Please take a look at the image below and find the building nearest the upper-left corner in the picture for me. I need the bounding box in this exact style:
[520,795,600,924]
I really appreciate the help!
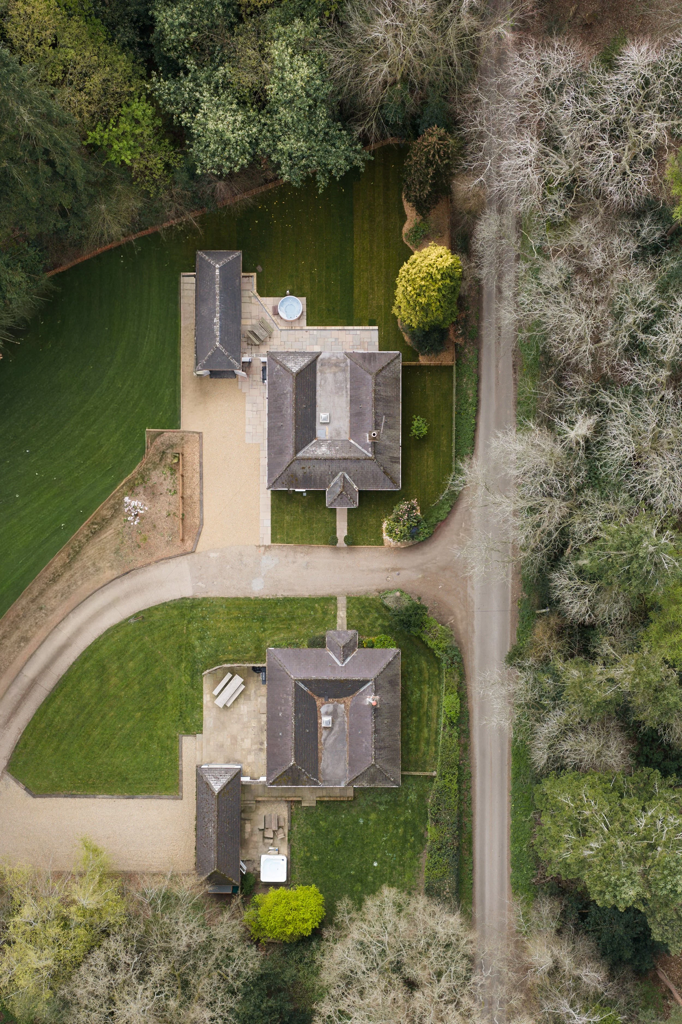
[195,250,251,381]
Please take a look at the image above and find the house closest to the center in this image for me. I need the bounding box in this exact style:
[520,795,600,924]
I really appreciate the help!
[266,350,402,509]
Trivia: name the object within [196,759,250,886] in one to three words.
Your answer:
building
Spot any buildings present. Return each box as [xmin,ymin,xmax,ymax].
[265,629,402,788]
[196,759,250,886]
[195,250,251,381]
[266,350,402,509]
